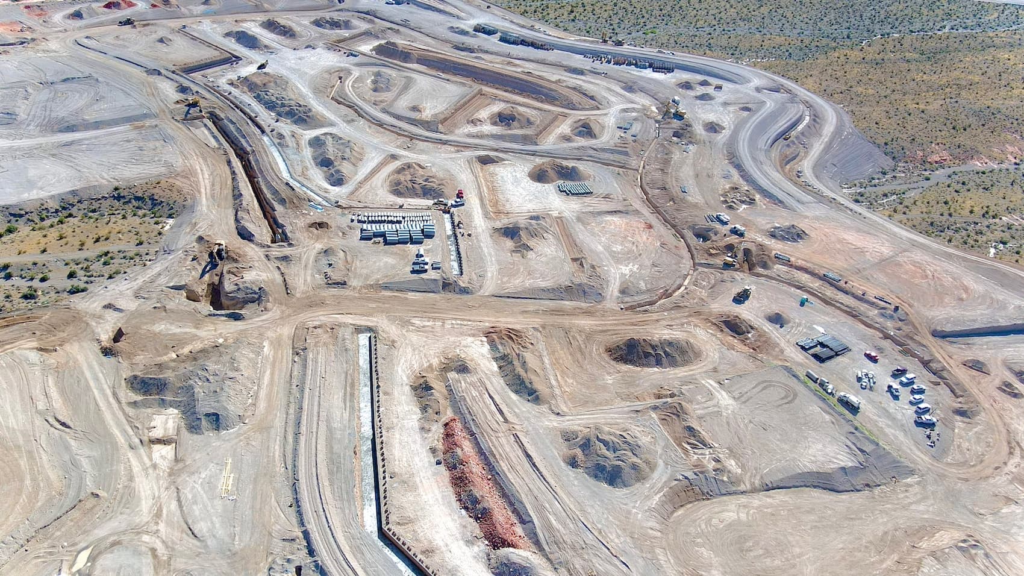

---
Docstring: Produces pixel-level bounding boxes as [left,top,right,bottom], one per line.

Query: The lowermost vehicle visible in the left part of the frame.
[209,239,226,268]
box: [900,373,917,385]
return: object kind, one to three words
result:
vehicle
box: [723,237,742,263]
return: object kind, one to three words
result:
work vehicle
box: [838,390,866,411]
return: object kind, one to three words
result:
truck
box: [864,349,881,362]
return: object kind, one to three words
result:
vehicle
